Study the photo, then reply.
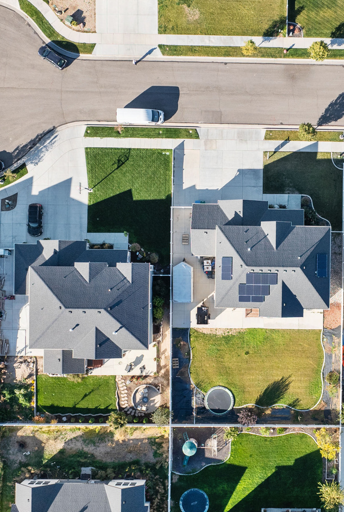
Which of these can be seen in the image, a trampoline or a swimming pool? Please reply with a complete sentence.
The one in the frame is a trampoline.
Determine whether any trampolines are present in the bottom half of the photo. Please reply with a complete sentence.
Yes, looking in the bottom half of the photo, one can make out a trampoline.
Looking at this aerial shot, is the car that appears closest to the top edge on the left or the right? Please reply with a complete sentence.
You can find the car that appears closest to the top edge on the left side of the picture.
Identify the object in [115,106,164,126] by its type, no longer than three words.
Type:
vehicle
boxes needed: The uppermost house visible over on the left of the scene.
[10,239,155,376]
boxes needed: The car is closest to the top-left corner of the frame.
[36,44,71,70]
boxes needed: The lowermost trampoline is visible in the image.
[179,487,209,512]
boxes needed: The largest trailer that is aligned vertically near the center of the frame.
[174,253,194,302]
